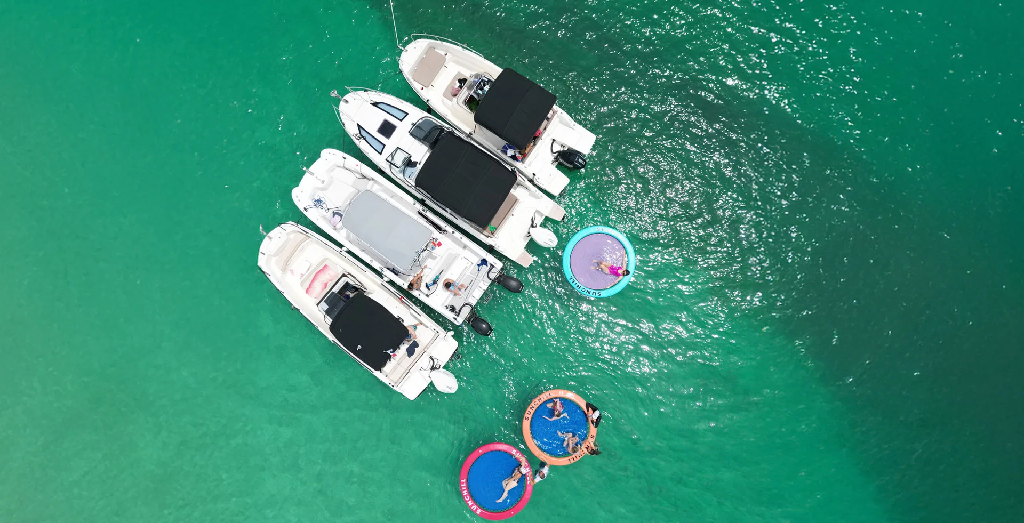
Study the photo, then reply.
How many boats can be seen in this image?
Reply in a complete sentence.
My tally gives 4 boats in this view.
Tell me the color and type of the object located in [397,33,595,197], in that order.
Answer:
white boat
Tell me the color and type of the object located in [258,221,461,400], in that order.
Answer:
white boat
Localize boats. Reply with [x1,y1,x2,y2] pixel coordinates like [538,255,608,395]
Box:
[292,148,525,335]
[333,87,565,268]
[397,33,595,197]
[258,221,461,400]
